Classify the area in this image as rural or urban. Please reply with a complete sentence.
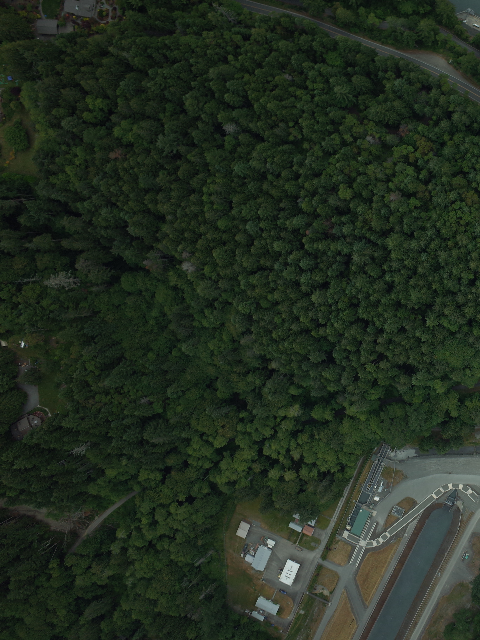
The land in this view is best described as rural.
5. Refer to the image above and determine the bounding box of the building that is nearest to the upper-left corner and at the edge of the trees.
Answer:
[36,19,60,36]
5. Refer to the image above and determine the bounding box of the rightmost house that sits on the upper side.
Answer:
[64,0,97,19]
